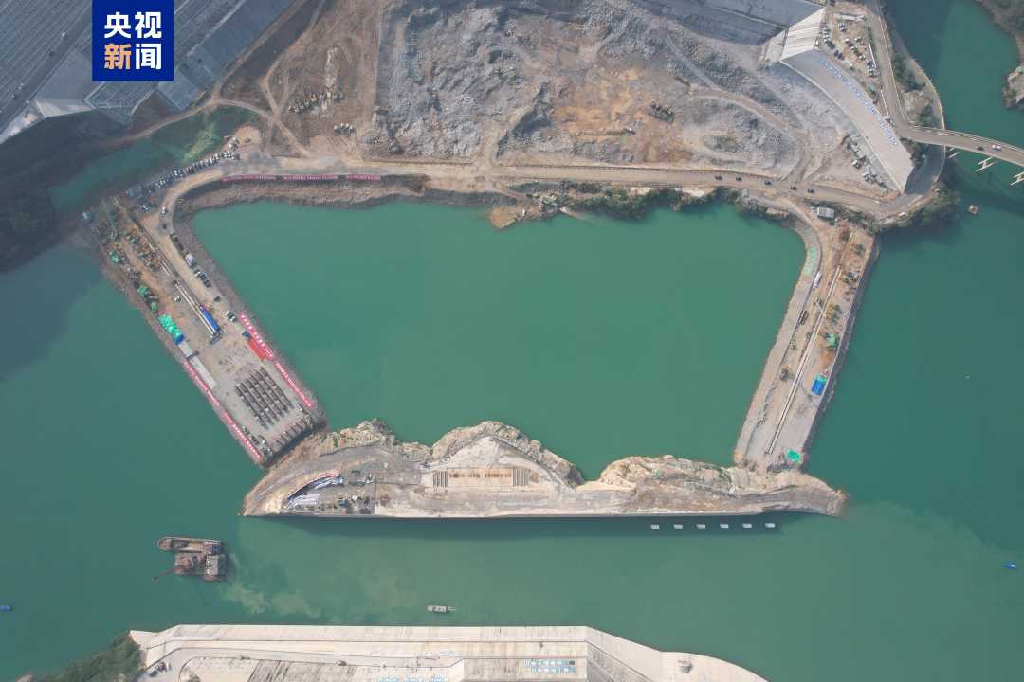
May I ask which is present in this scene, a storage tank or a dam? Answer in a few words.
dam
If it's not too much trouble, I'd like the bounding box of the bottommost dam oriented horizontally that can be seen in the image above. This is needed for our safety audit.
[131,625,767,682]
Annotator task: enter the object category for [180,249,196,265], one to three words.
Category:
vehicle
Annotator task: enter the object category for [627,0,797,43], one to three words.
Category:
dam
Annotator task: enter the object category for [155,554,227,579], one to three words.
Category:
ship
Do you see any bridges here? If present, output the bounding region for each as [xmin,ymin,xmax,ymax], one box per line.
[910,124,1024,188]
